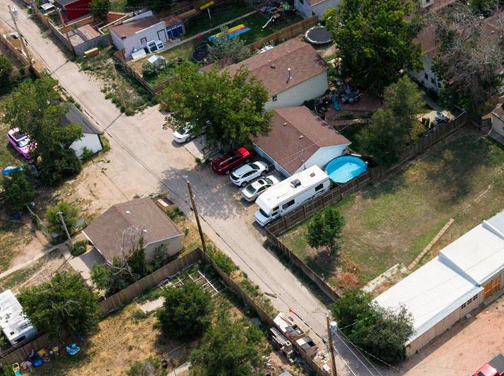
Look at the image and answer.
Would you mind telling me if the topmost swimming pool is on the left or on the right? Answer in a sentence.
The topmost swimming pool is on the right side of the image.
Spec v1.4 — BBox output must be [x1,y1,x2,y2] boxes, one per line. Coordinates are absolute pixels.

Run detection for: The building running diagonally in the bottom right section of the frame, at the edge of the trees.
[380,208,504,357]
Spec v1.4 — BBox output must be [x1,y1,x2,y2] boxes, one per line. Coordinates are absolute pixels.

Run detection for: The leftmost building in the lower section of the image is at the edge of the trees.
[82,197,184,278]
